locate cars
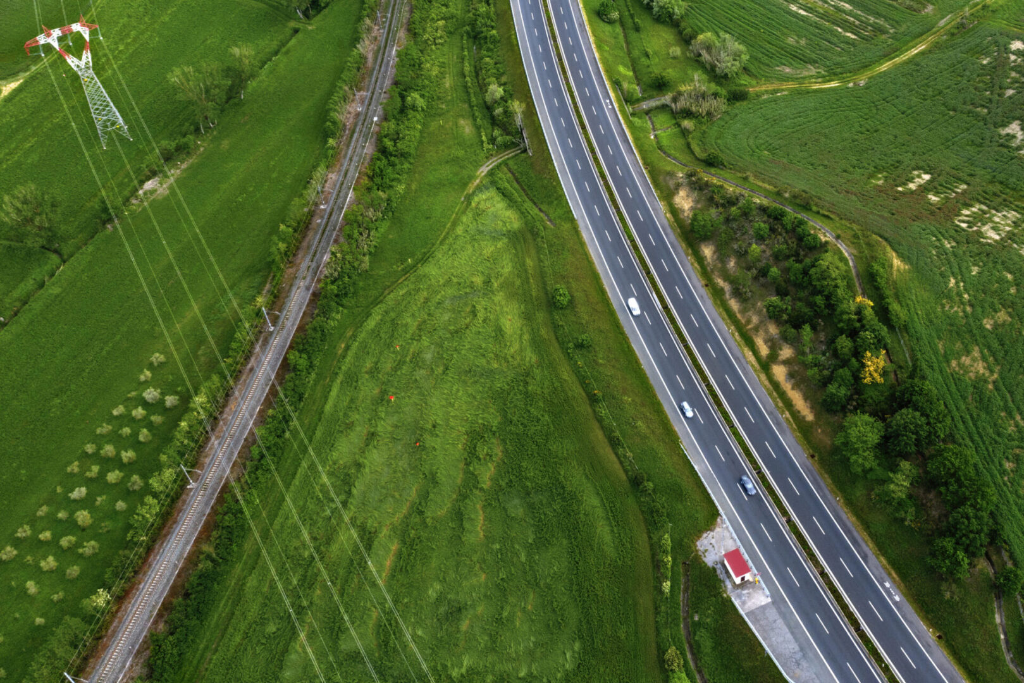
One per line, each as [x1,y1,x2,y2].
[680,399,696,420]
[627,297,643,317]
[738,471,760,498]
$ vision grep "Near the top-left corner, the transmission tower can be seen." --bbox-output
[24,16,135,148]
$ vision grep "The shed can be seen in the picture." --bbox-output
[720,549,751,584]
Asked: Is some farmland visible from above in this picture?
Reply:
Yes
